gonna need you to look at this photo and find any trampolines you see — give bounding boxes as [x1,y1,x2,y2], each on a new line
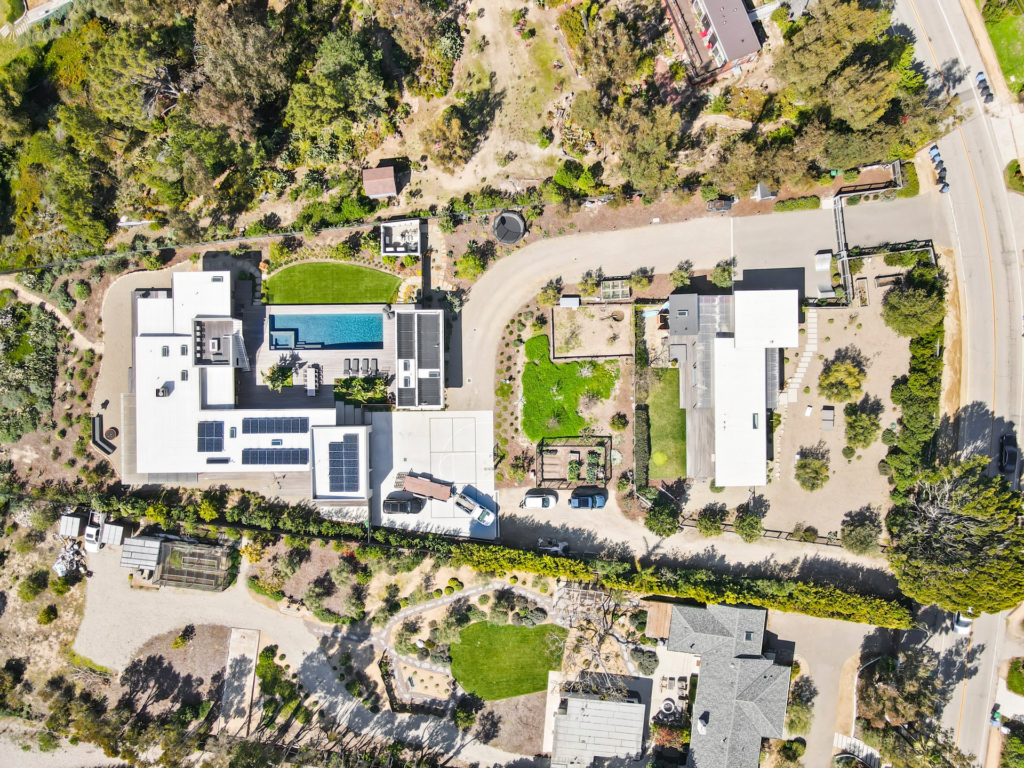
[492,208,525,244]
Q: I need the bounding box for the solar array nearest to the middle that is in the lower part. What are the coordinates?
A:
[329,435,358,492]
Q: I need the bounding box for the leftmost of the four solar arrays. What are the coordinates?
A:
[198,422,223,452]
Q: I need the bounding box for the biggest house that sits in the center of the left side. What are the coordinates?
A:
[136,271,378,499]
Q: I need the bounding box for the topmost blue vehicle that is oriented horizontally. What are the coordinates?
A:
[569,494,604,511]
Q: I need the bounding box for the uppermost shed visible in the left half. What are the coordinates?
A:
[362,166,398,199]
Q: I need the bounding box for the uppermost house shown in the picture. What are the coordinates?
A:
[696,0,761,73]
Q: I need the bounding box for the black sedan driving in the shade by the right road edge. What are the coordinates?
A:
[996,435,1017,472]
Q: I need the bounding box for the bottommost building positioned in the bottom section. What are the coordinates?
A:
[551,686,645,768]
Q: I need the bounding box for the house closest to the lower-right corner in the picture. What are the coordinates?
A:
[667,602,791,768]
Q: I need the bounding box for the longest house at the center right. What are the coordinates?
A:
[714,290,799,486]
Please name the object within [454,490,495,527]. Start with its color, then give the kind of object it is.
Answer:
white truck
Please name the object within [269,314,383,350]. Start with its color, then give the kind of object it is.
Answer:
blue swimming pool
